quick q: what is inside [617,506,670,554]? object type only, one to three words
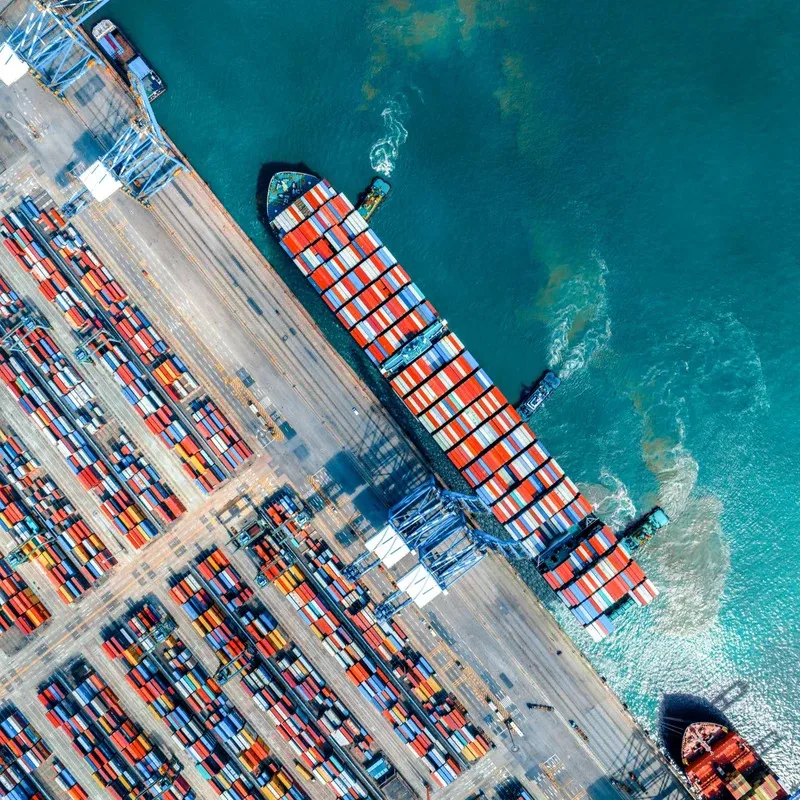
boat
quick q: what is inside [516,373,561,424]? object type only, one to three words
boat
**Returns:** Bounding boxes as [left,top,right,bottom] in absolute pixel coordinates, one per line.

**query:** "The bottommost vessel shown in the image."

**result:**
[623,710,792,800]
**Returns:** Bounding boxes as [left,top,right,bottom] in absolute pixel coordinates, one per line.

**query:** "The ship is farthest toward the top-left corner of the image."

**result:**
[95,20,169,102]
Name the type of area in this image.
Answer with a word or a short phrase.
port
